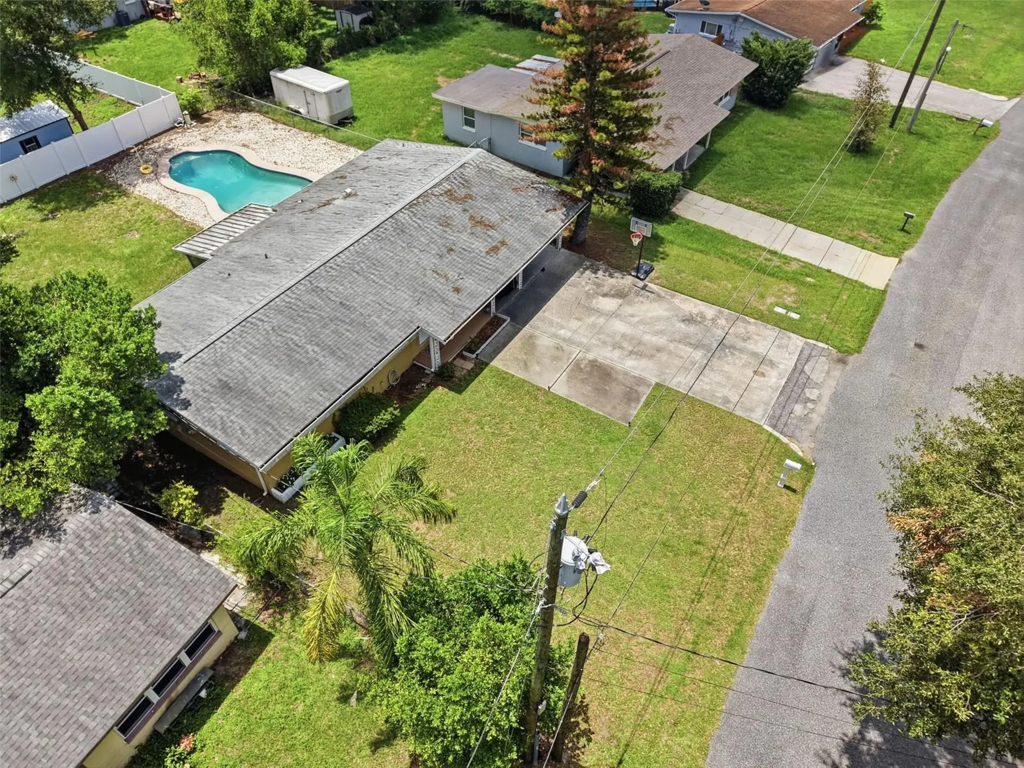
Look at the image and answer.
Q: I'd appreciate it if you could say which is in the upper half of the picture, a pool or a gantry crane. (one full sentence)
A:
It is a pool that can be seen in the upper half of the picture.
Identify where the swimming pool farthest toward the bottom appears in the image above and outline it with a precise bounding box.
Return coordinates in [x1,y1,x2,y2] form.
[157,144,320,219]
